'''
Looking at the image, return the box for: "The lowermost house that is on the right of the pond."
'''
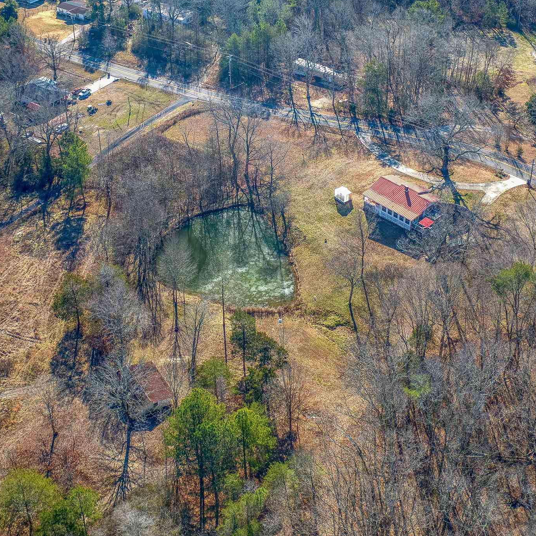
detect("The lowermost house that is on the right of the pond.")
[365,177,451,243]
